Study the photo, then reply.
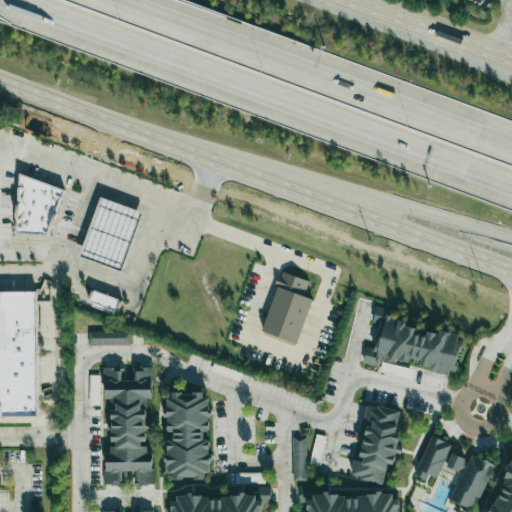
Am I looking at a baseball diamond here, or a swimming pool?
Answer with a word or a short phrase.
swimming pool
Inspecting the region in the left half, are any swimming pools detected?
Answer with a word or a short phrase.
No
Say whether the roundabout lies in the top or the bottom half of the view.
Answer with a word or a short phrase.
bottom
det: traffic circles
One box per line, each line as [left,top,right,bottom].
[454,357,512,438]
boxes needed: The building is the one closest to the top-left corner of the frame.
[17,174,66,236]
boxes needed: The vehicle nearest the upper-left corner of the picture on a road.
[8,3,54,26]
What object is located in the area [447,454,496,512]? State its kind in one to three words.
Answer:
building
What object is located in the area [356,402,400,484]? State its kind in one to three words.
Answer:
building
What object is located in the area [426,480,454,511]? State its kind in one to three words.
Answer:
swimming pool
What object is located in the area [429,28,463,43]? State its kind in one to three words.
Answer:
vehicle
